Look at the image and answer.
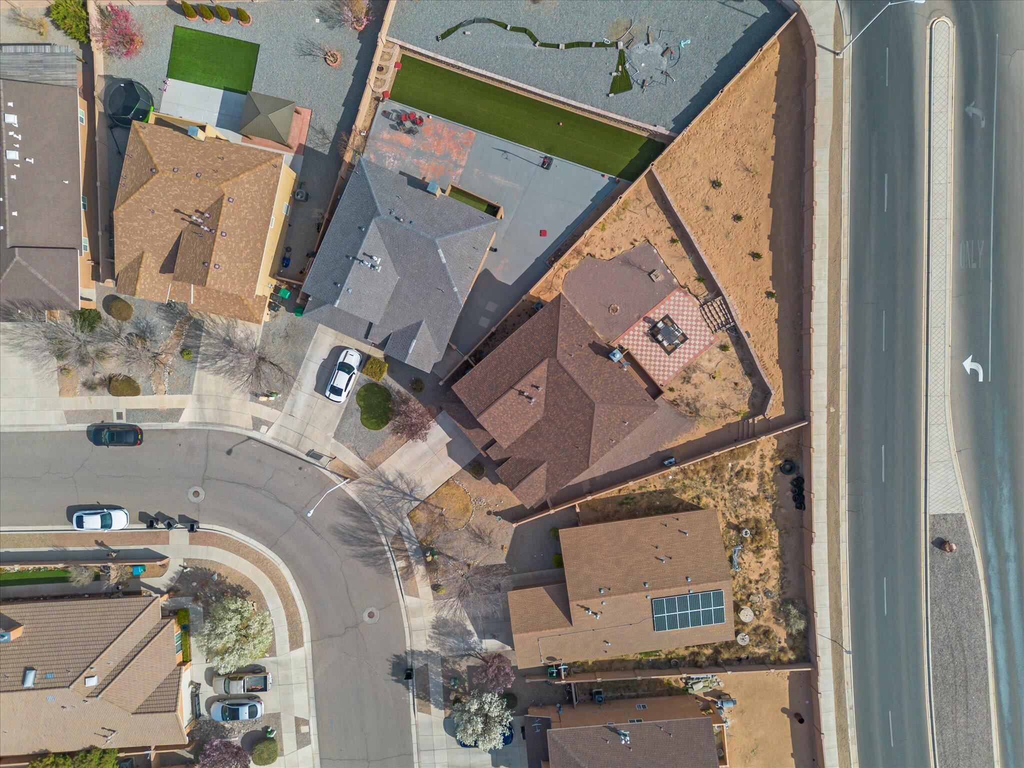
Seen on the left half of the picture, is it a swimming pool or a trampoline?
trampoline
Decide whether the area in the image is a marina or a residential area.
residential area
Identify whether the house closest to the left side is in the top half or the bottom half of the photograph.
top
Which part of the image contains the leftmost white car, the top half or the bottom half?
bottom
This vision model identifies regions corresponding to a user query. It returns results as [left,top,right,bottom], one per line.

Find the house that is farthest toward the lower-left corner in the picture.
[0,592,197,761]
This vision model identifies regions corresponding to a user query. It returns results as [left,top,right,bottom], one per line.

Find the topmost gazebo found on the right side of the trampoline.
[240,91,302,151]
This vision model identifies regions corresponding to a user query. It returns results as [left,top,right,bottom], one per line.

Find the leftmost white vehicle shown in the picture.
[73,509,132,534]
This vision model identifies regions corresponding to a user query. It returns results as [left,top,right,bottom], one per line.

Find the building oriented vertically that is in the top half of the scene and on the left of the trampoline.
[0,80,98,323]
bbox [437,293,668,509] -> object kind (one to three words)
house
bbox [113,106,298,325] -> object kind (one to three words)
house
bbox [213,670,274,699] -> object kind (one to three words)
truck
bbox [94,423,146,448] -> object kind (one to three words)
car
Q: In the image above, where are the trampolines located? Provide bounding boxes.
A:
[90,66,154,128]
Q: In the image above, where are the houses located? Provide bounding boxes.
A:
[0,592,197,761]
[508,508,735,669]
[113,106,298,325]
[302,158,503,373]
[0,80,98,323]
[437,293,668,509]
[524,695,733,768]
